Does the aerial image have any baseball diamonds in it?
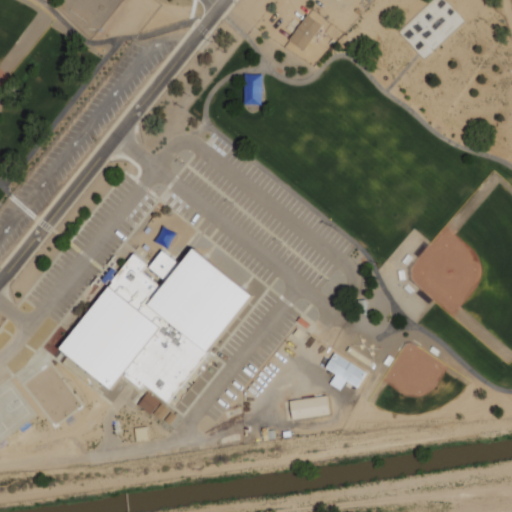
Yes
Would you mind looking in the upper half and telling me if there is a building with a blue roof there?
Yes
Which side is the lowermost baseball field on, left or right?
right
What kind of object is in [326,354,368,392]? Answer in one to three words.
building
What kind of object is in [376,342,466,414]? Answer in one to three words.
baseball field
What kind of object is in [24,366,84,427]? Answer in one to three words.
sports court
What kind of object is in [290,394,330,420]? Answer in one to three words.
barn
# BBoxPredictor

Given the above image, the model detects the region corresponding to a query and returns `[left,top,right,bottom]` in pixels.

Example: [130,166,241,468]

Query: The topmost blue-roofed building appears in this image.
[244,74,262,105]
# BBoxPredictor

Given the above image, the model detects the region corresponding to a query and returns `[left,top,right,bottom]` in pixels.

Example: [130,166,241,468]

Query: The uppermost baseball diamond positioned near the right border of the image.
[410,171,512,364]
